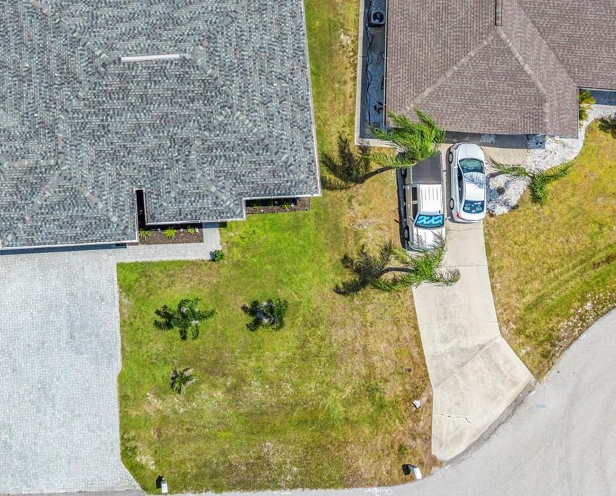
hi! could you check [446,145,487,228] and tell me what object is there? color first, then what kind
white car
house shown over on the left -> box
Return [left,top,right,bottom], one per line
[0,0,326,251]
